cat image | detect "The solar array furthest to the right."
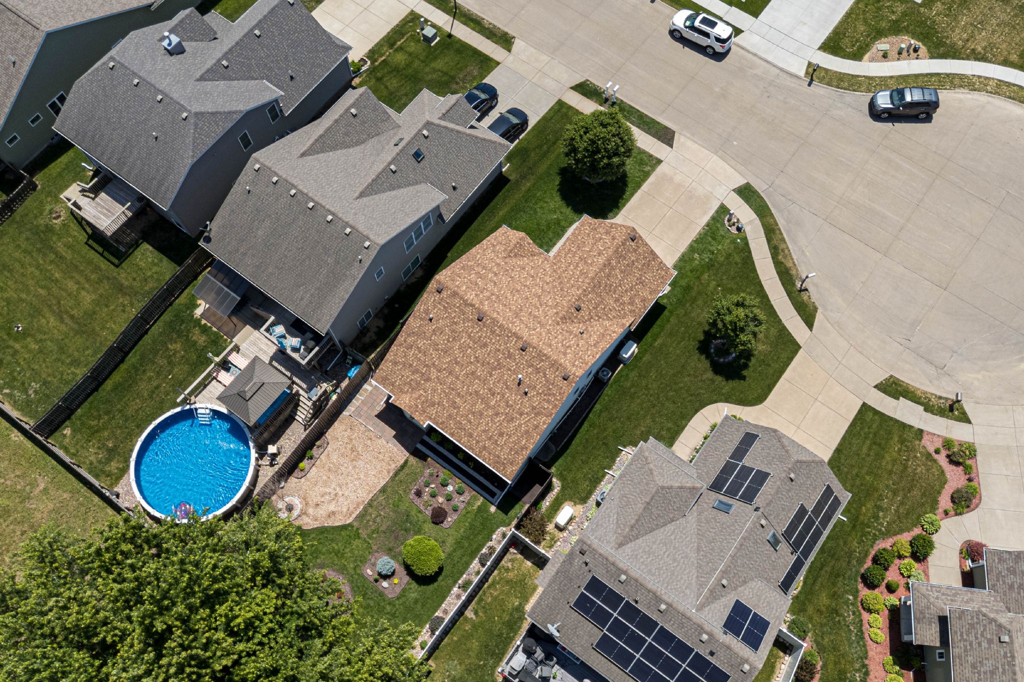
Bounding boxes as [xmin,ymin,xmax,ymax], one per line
[782,484,843,594]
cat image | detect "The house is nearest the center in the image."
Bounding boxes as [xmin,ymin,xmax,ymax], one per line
[371,216,678,494]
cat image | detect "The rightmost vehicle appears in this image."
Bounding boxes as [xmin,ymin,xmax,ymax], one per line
[868,84,943,119]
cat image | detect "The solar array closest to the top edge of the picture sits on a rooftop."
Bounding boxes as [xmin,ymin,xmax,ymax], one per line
[707,431,770,503]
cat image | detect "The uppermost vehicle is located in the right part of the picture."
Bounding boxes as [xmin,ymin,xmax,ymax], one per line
[667,8,738,55]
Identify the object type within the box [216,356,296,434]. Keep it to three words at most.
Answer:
gazebo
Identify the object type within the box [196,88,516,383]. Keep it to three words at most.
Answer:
house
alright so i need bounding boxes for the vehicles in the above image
[485,103,530,145]
[868,84,943,119]
[465,81,499,125]
[667,8,738,55]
